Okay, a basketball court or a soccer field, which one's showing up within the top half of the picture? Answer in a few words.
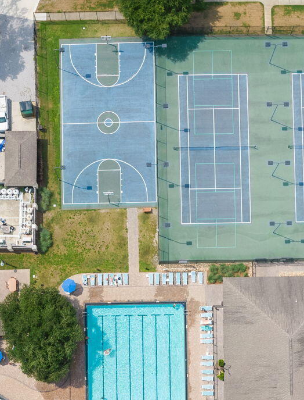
basketball court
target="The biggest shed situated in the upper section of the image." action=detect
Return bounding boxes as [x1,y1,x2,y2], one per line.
[5,130,38,190]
